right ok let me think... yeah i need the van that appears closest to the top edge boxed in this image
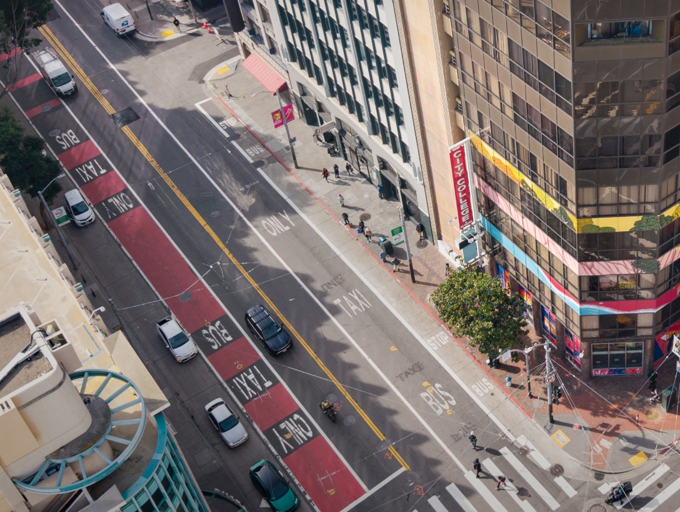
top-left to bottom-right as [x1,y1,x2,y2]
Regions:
[95,0,140,40]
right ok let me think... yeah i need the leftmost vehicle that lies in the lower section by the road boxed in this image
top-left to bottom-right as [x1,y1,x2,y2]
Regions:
[152,314,204,368]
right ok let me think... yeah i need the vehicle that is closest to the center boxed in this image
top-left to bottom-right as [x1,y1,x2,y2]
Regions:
[244,306,297,359]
